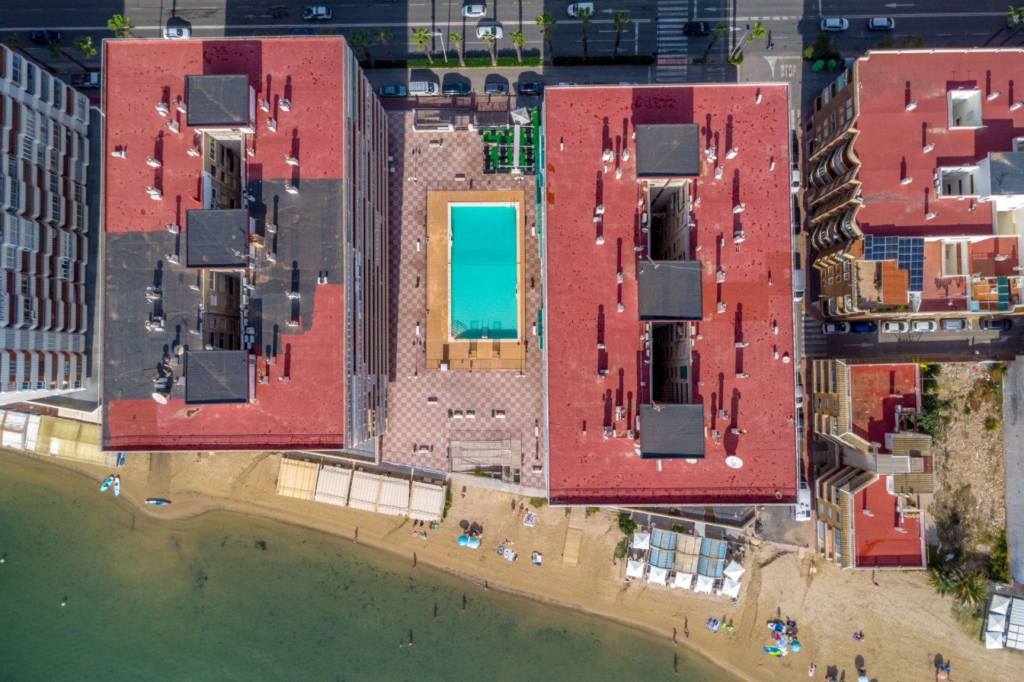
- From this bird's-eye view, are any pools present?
Yes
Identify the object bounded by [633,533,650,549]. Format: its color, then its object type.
white umbrella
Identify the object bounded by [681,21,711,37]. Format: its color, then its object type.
black car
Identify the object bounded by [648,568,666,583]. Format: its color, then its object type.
white umbrella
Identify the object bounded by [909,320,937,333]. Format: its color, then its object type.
white vehicle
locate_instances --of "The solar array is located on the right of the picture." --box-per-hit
[859,238,923,292]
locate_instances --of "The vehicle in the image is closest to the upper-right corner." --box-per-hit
[865,16,895,32]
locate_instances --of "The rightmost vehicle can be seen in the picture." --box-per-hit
[979,316,1010,331]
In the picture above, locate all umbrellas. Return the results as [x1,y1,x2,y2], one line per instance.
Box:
[722,578,741,598]
[648,568,666,583]
[675,573,692,589]
[510,108,530,124]
[627,561,644,578]
[985,615,1005,632]
[633,533,650,549]
[790,641,801,652]
[988,594,1010,614]
[696,575,713,592]
[982,632,1002,649]
[457,534,469,547]
[857,673,869,682]
[723,560,745,582]
[468,536,480,548]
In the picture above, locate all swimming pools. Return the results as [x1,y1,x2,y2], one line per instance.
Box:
[427,190,525,370]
